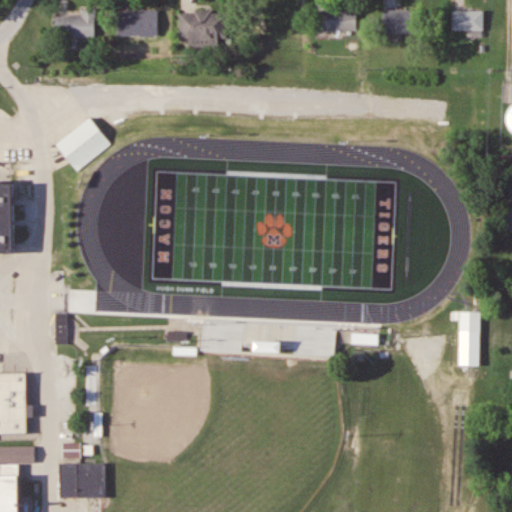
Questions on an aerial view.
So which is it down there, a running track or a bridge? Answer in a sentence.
It is a running track that can be seen here.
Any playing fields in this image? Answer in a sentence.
Yes, a playing field appears in the view.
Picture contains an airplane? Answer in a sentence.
No, I can see no airplane in this picture.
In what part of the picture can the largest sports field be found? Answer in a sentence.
The largest sports field is in the center part of the image.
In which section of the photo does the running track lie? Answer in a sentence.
The running track is in the center part of the image.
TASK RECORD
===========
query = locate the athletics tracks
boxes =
[79,138,470,322]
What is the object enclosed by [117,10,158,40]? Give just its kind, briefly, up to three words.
house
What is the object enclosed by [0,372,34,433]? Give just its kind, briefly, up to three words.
building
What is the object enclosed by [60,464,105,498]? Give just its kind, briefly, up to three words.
building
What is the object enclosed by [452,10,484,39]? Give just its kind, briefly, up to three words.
house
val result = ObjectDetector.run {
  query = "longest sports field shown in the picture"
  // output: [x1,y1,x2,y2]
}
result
[142,160,449,302]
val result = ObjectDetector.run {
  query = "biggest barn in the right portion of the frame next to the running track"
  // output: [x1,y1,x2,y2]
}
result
[450,310,481,372]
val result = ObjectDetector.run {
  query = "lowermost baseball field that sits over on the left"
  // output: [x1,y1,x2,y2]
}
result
[110,361,212,464]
